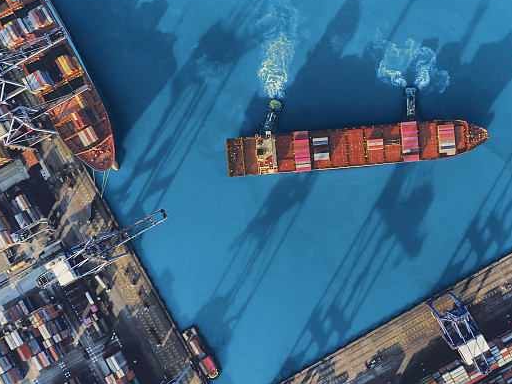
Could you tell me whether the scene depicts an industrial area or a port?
port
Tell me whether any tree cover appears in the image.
No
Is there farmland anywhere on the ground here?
No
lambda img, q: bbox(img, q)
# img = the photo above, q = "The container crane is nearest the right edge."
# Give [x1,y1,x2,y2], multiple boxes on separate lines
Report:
[425,290,492,375]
